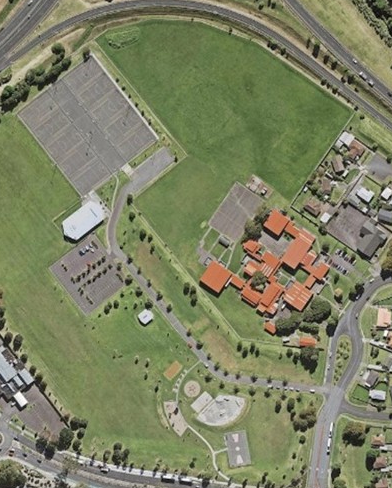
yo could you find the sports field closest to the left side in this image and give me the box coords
[0,118,165,463]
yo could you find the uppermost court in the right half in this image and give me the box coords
[209,182,265,242]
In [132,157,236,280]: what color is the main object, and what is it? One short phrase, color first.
green sports field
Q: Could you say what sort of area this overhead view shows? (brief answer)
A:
sports ground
